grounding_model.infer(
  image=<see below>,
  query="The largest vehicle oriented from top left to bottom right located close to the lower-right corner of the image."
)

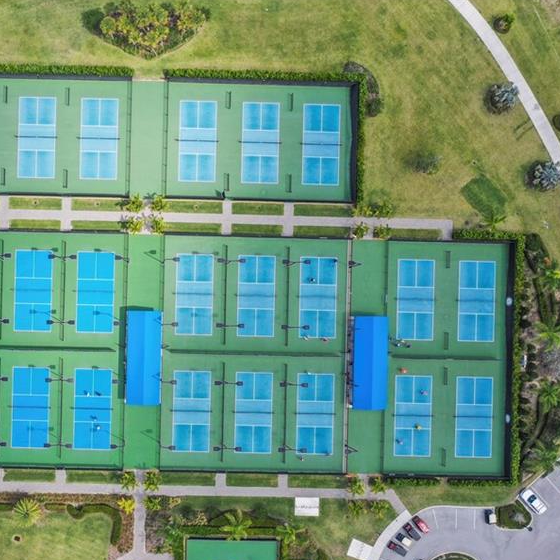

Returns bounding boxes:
[518,488,547,515]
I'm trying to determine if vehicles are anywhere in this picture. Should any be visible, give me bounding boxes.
[518,488,547,515]
[412,519,429,535]
[403,527,421,543]
[388,541,406,556]
[396,534,411,547]
[481,509,495,523]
